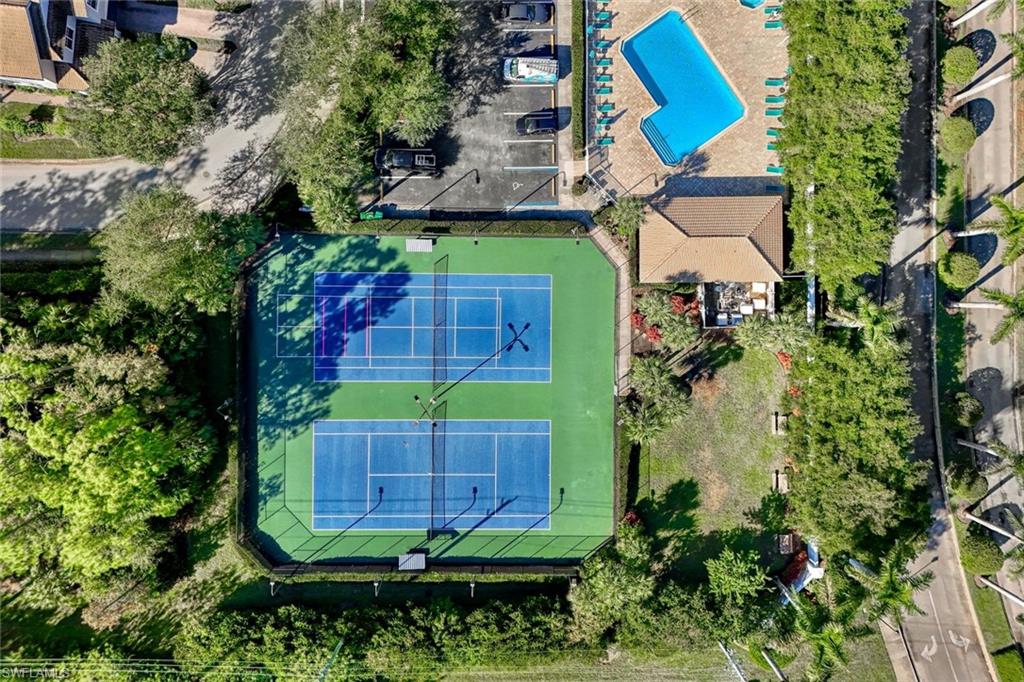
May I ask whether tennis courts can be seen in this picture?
Yes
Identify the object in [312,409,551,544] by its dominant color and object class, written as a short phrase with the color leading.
blue tennis court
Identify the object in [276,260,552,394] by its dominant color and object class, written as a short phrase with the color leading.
blue tennis court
